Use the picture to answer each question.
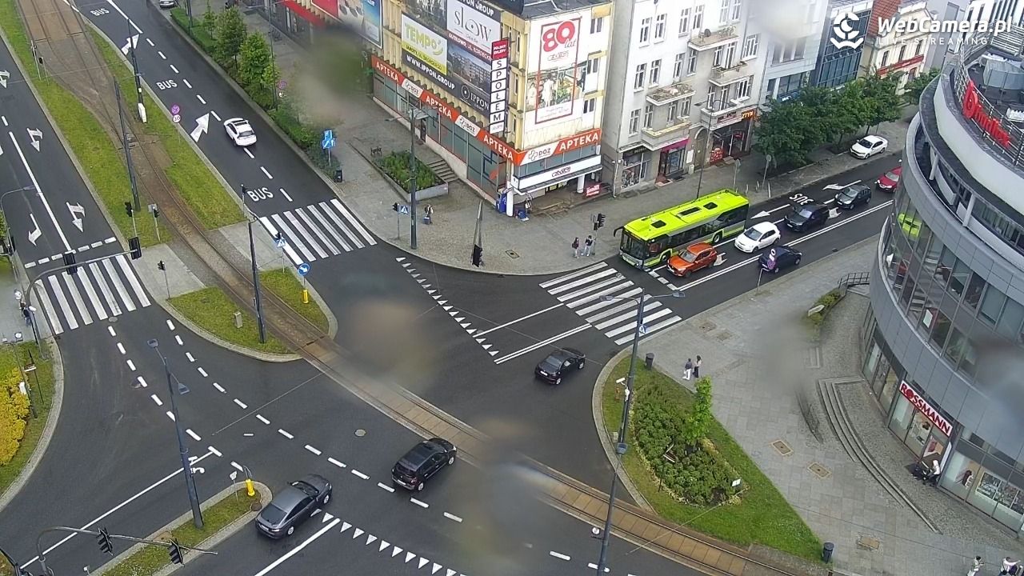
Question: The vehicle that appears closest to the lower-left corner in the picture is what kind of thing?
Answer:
car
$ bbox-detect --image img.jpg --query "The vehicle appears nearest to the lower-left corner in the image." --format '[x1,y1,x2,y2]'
[256,475,336,540]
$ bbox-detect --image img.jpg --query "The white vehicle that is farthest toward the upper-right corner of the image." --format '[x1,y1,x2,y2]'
[848,135,893,159]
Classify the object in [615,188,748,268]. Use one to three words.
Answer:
bus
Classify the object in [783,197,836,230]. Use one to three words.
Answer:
car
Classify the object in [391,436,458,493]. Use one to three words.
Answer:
car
